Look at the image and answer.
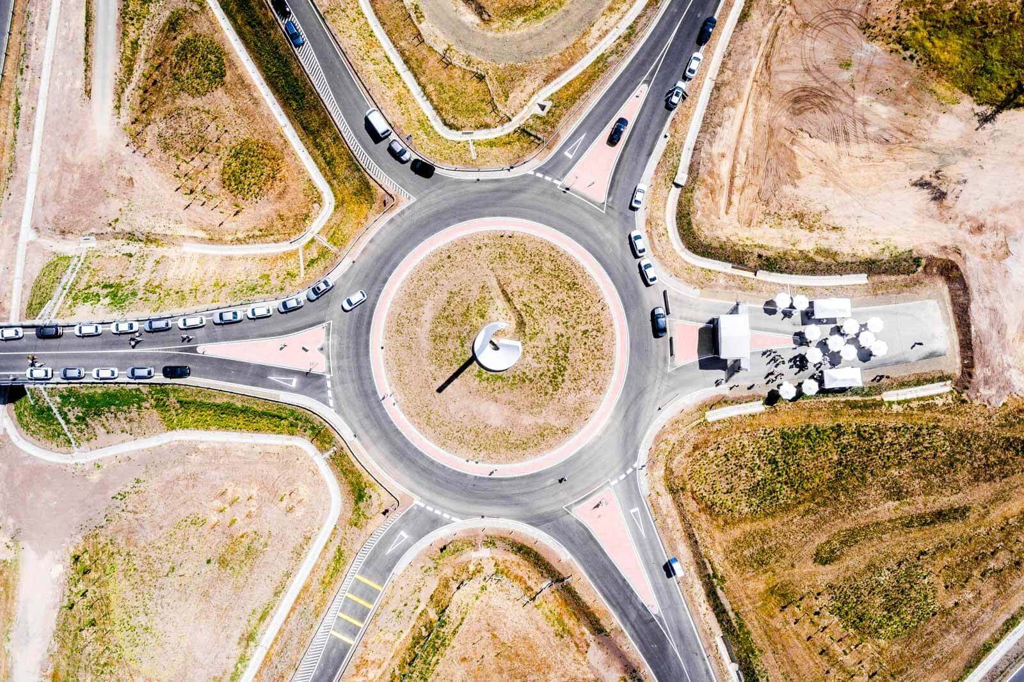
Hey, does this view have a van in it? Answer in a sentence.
Yes, the image includes a van.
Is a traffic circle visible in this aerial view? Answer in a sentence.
Yes, there's a traffic circle down there.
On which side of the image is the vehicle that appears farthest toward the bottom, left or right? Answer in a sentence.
The vehicle that appears farthest toward the bottom is on the right side of the image.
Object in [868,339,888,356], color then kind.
white umbrella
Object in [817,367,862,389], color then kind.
white tent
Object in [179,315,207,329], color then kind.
white car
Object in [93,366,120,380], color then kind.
white car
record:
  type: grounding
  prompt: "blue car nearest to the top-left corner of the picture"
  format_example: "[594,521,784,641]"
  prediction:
[283,18,304,47]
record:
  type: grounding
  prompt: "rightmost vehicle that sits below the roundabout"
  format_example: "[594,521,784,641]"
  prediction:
[664,554,684,581]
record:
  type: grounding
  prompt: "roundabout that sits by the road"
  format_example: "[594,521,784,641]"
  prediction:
[327,172,671,519]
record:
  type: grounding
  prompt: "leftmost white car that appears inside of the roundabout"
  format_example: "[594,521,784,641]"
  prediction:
[342,290,368,310]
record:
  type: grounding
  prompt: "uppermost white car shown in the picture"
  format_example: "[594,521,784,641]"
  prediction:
[684,52,702,80]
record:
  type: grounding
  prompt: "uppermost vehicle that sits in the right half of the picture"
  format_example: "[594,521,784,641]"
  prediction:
[697,15,717,45]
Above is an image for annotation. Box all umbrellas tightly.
[857,331,875,347]
[779,382,796,398]
[804,347,822,363]
[868,339,888,356]
[839,345,857,361]
[826,336,843,351]
[840,319,858,335]
[803,324,821,341]
[774,292,791,308]
[791,294,809,310]
[801,379,818,395]
[864,317,883,333]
